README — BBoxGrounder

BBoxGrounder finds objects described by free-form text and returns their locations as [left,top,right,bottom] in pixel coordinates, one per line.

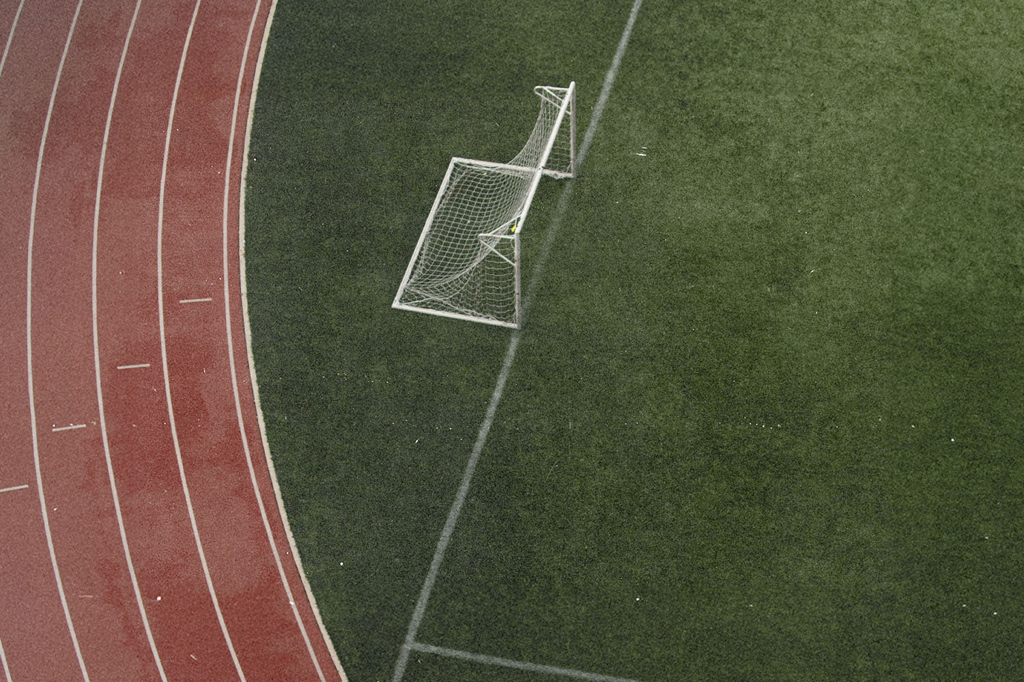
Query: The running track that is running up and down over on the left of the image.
[0,0,342,682]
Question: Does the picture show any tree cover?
No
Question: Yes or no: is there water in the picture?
No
